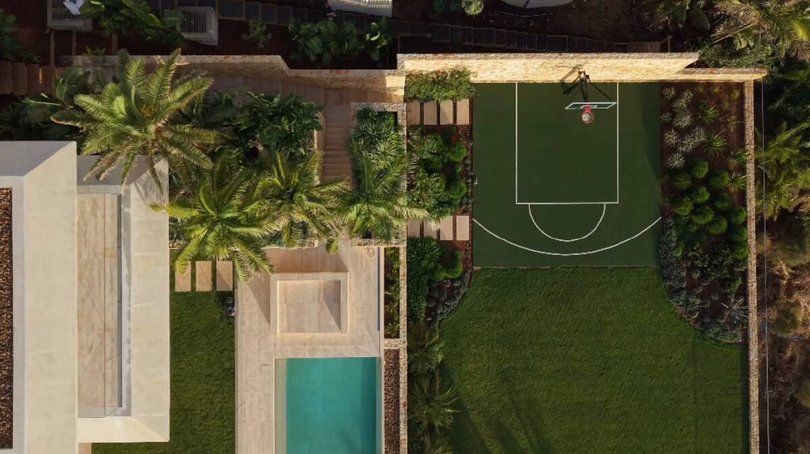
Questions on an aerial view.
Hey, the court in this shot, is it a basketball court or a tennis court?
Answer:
basketball court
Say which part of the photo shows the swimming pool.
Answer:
bottom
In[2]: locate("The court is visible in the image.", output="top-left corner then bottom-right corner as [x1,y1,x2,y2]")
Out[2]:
[472,81,662,267]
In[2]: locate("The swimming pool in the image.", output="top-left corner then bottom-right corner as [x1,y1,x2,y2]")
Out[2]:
[274,358,381,454]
